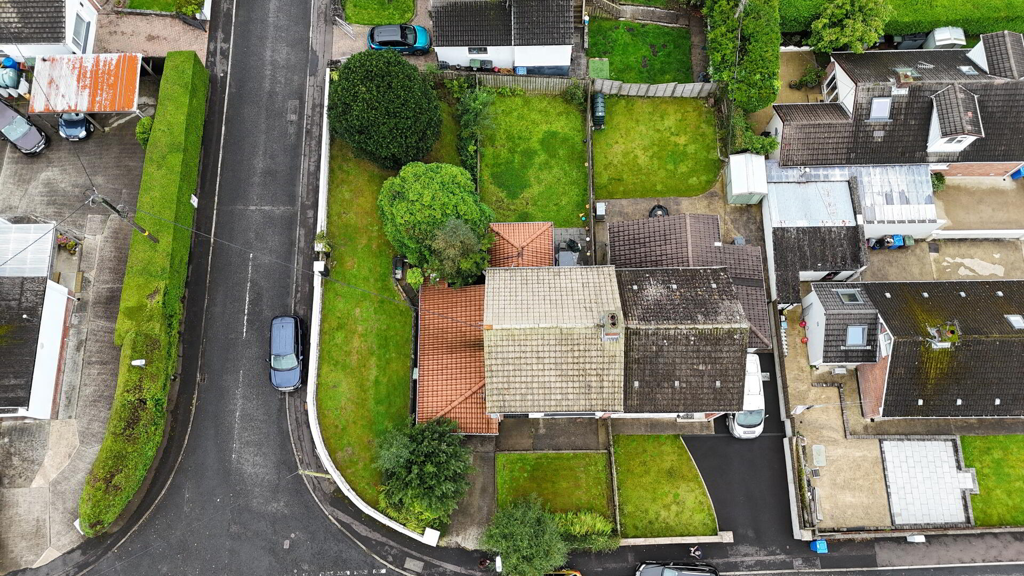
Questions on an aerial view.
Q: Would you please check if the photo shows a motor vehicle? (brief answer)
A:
Yes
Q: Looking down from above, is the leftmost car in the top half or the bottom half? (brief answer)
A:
top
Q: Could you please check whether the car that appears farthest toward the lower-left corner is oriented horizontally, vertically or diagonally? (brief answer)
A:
vertically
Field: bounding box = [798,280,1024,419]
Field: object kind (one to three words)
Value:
house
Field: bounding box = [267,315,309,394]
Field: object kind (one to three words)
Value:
car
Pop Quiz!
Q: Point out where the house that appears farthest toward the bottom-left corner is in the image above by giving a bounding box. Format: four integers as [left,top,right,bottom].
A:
[0,221,82,413]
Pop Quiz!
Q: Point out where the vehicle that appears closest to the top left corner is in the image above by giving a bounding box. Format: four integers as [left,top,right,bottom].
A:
[0,93,48,159]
